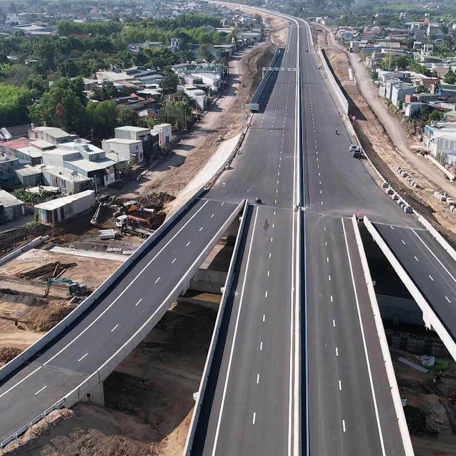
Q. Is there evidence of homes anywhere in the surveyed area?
Yes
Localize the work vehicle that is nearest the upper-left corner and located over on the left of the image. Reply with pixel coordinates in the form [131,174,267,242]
[102,190,151,220]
